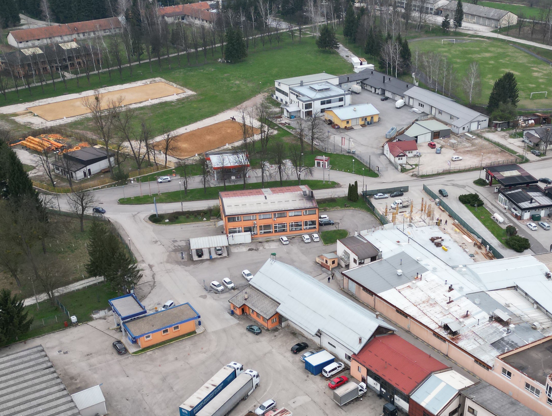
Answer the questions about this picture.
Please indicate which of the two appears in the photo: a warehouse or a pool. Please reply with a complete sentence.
It is a warehouse that can be seen here.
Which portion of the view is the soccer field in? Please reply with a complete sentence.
Look in the top right portion of the view to spot the soccer field.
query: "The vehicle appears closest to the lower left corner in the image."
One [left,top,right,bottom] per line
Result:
[113,342,127,356]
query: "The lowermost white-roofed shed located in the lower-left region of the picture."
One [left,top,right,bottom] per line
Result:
[70,384,107,416]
